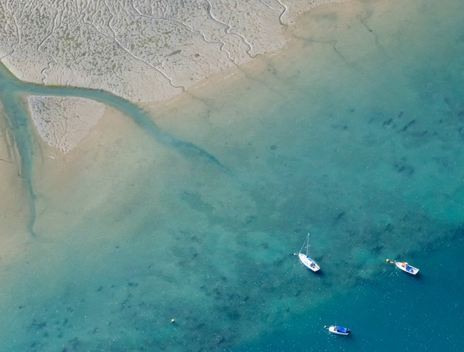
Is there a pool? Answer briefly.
No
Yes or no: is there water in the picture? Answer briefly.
Yes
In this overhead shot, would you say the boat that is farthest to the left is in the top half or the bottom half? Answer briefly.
bottom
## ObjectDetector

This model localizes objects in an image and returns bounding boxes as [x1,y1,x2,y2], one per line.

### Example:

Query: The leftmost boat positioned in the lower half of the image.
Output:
[300,237,320,272]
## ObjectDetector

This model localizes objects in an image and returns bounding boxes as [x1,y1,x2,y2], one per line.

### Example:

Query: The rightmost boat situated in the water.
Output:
[395,262,418,276]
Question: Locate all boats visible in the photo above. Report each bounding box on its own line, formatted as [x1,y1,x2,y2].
[300,237,320,272]
[329,326,352,336]
[395,262,418,276]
